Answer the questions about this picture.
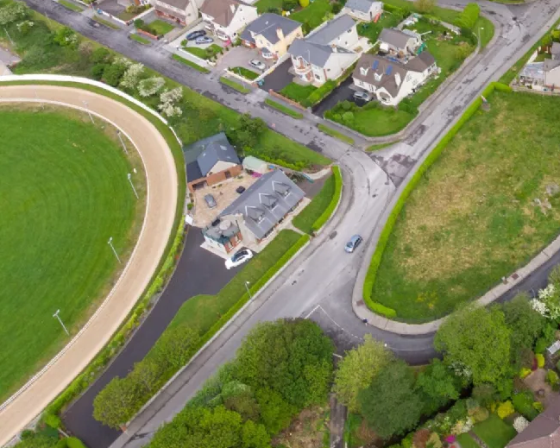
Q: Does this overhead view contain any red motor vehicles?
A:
No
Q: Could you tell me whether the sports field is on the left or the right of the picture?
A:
left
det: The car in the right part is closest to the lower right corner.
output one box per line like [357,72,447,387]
[344,234,363,254]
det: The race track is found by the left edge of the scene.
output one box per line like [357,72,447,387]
[0,85,176,446]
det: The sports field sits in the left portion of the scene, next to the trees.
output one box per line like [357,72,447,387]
[0,108,135,392]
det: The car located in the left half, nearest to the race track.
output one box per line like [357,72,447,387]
[201,191,218,212]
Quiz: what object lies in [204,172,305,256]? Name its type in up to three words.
house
